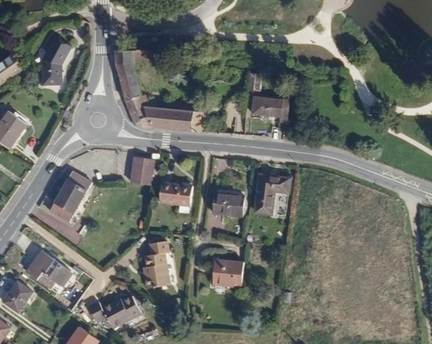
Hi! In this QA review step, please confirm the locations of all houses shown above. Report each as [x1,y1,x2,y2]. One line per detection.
[66,325,100,344]
[2,280,35,314]
[130,155,156,186]
[158,180,194,214]
[0,316,15,340]
[86,291,145,331]
[42,38,72,86]
[212,182,246,218]
[0,54,24,87]
[212,258,246,288]
[32,168,94,244]
[254,170,294,216]
[28,248,69,290]
[254,95,290,126]
[0,110,29,148]
[140,106,195,134]
[140,240,172,288]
